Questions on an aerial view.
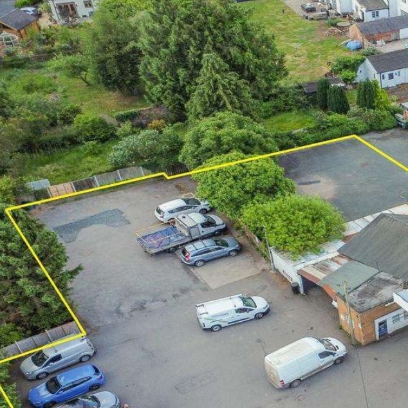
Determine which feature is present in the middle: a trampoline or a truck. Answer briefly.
truck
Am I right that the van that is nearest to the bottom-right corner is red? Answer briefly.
No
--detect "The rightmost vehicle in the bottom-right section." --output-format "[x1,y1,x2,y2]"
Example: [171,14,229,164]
[260,326,352,394]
